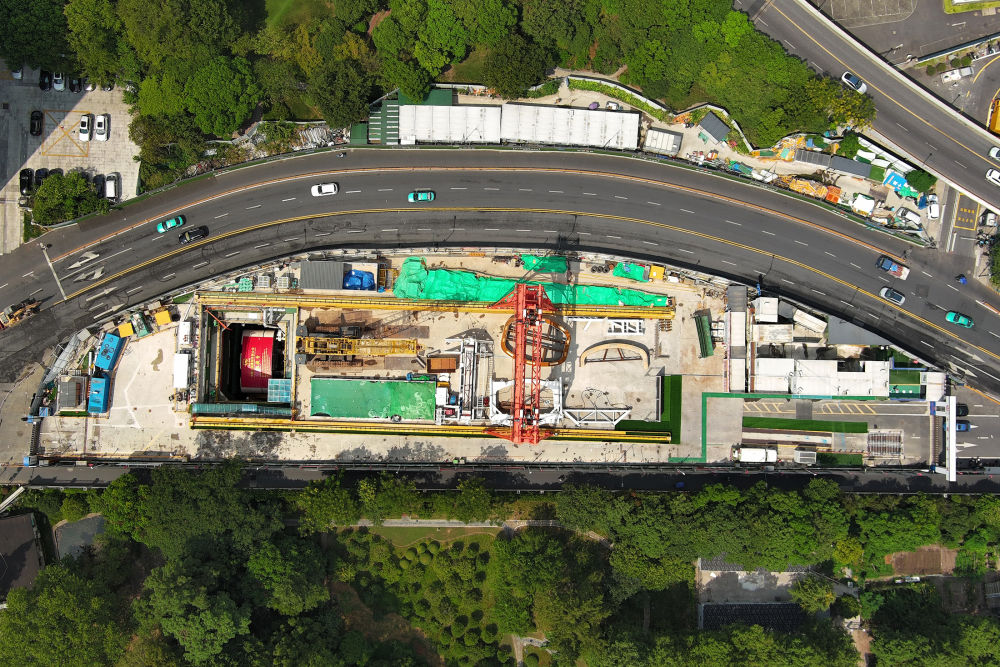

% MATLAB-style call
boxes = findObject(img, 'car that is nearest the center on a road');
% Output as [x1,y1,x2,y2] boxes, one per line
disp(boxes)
[407,188,435,201]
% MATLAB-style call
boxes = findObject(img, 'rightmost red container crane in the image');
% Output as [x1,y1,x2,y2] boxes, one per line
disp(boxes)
[486,283,562,443]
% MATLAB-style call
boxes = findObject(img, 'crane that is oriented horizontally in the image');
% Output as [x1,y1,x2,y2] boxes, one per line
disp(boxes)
[296,325,422,371]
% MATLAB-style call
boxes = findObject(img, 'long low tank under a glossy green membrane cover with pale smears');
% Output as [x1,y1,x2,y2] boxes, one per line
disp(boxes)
[310,377,437,424]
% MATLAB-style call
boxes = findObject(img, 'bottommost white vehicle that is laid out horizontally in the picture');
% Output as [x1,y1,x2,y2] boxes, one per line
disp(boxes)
[740,448,779,465]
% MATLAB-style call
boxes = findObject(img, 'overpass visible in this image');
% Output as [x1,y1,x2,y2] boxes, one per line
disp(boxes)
[704,0,1000,216]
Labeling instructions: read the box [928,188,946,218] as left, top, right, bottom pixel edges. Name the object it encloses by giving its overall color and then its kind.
white vehicle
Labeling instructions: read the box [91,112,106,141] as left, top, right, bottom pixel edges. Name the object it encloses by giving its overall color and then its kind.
white car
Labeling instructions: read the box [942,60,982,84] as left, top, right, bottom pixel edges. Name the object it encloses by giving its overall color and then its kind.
white truck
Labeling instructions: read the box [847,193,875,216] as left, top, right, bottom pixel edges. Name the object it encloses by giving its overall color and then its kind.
white gazebo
